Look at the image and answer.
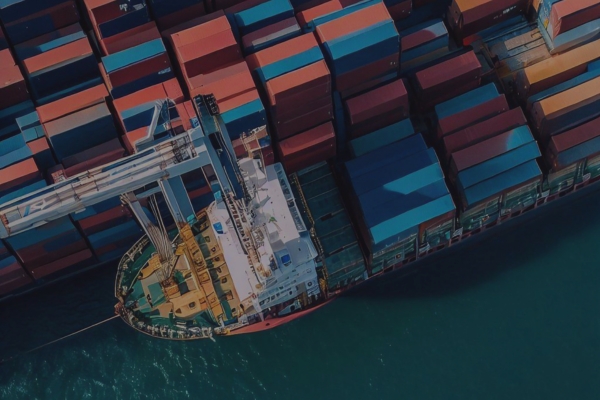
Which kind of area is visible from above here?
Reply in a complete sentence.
This looks like a port.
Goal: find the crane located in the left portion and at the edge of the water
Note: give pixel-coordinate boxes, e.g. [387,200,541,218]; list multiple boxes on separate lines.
[0,94,255,286]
